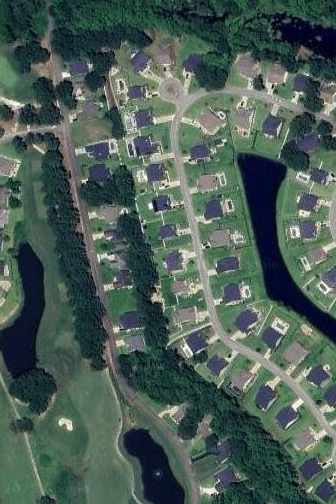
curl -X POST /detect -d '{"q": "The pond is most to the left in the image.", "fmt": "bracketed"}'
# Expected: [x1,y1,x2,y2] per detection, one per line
[0,243,46,379]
